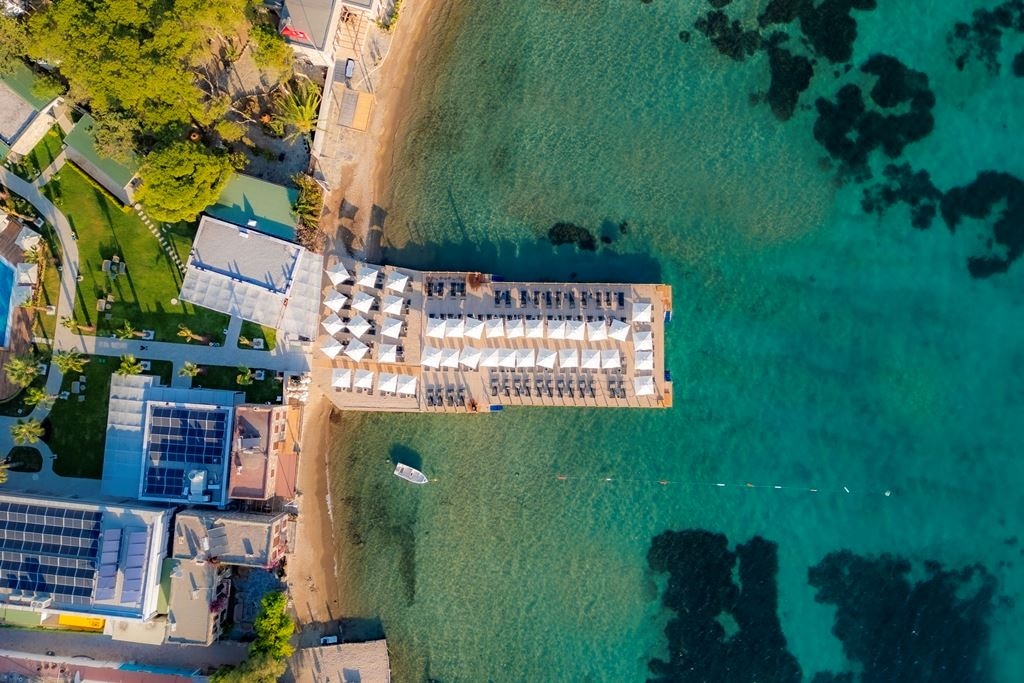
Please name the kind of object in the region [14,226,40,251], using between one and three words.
umbrella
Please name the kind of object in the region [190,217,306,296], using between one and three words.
building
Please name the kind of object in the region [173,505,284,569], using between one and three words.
house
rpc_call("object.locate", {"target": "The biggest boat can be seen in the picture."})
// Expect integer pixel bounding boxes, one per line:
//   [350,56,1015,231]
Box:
[392,461,428,481]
